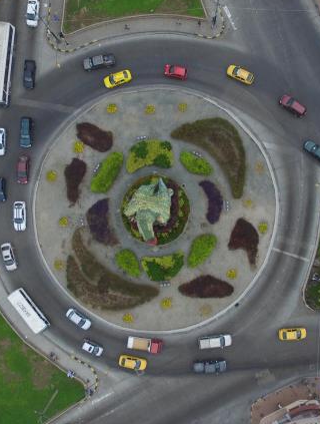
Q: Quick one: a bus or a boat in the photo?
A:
bus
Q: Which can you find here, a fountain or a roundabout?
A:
roundabout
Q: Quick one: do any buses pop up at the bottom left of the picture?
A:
Yes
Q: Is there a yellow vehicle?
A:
Yes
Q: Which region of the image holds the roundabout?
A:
center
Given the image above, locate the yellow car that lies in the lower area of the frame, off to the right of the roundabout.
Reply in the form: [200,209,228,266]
[278,327,306,341]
